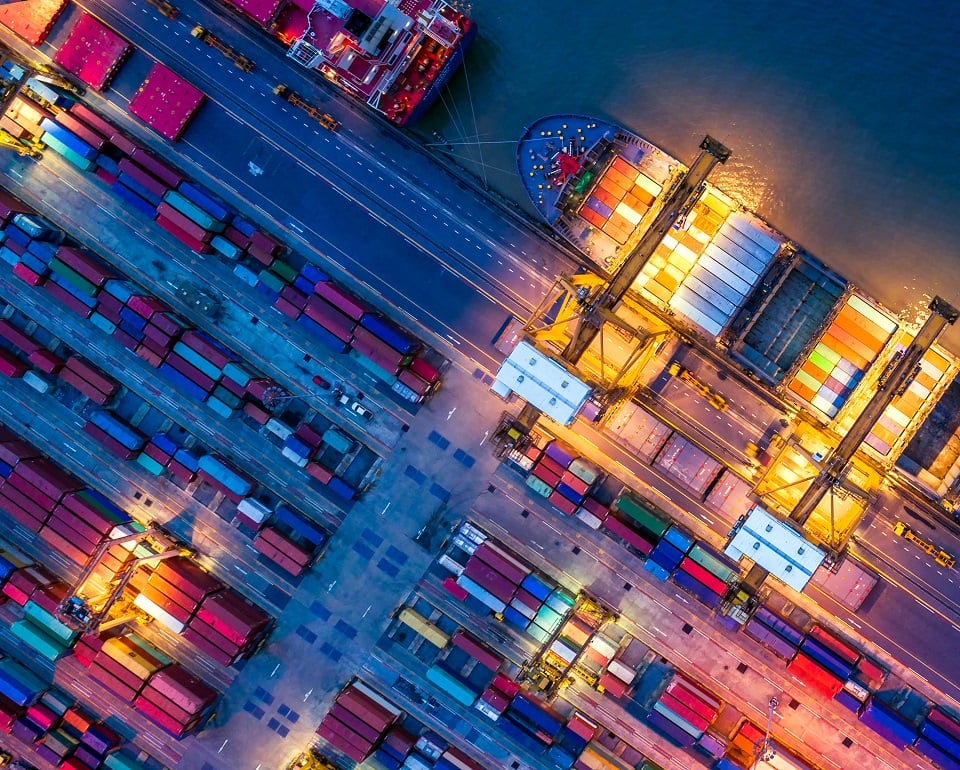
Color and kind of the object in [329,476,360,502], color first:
blue shipping container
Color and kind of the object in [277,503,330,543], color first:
blue shipping container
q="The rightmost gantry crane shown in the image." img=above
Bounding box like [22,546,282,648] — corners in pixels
[714,292,960,616]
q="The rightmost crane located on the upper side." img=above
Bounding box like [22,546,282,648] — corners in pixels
[486,129,735,457]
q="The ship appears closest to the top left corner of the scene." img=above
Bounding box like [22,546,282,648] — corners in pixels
[225,0,481,125]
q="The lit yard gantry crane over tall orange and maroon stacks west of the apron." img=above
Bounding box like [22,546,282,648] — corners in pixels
[59,525,183,633]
